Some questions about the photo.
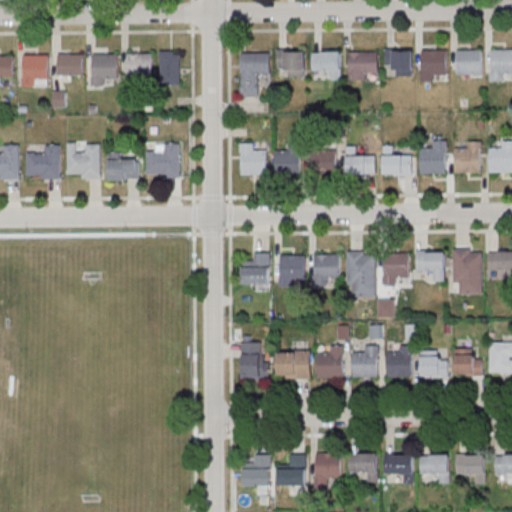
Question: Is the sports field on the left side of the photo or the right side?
left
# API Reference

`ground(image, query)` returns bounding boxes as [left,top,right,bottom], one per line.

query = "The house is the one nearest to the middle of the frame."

[240,252,271,292]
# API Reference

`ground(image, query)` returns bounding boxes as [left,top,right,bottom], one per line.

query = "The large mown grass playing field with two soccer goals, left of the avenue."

[0,226,204,512]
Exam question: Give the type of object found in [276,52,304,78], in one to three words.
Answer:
house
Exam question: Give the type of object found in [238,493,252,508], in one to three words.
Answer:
swimming pool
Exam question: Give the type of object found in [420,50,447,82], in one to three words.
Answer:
house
